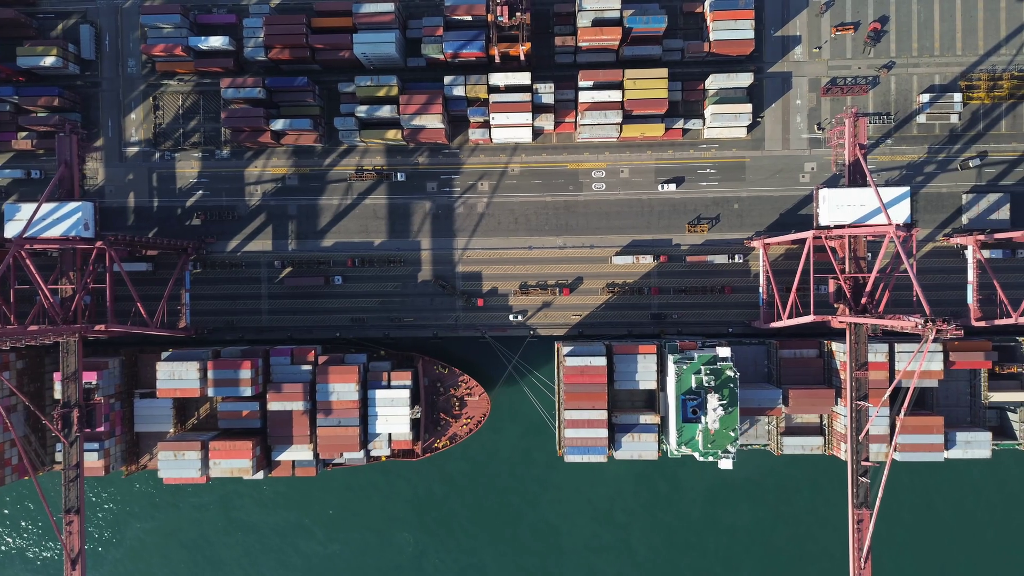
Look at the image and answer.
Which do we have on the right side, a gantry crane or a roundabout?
gantry crane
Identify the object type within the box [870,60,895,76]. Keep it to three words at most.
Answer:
work vehicle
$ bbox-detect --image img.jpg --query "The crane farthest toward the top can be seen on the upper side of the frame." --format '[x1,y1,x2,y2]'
[488,0,532,69]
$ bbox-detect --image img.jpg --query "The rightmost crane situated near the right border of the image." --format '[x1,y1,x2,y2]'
[944,236,1024,327]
